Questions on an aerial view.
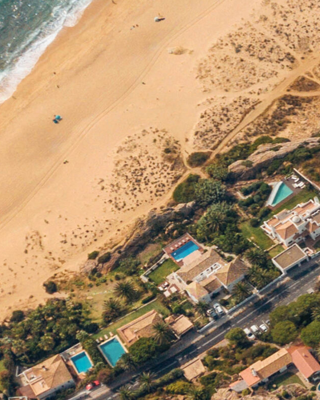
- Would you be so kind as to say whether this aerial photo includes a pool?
Yes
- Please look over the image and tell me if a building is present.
Yes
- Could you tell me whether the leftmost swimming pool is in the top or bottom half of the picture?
bottom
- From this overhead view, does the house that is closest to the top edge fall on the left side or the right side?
right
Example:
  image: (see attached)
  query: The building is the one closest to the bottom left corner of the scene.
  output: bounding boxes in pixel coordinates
[16,355,74,400]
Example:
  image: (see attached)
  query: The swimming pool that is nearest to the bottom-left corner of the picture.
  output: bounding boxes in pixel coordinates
[69,351,96,376]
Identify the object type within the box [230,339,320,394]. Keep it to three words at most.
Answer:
house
